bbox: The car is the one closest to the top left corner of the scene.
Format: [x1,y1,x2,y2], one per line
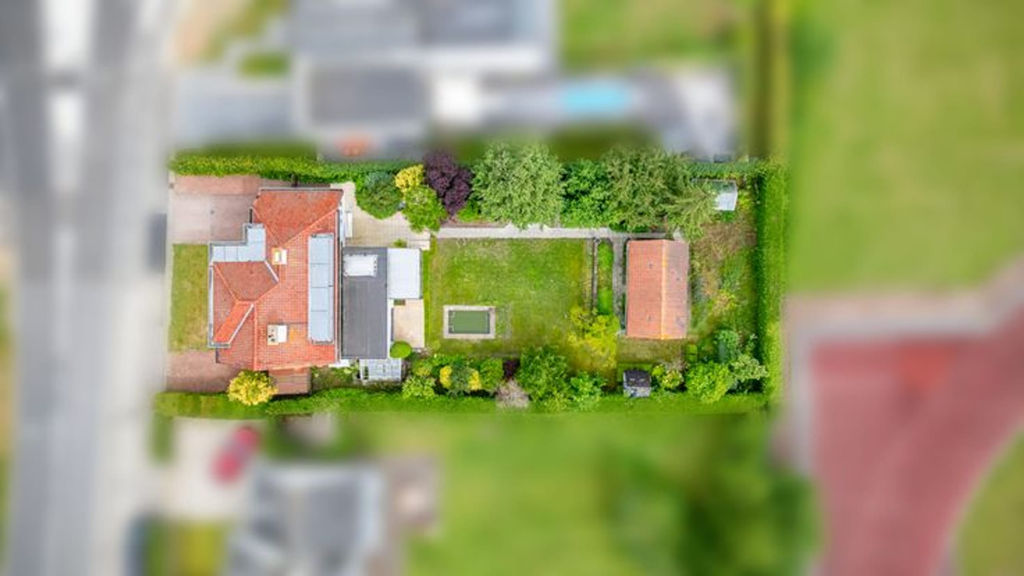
[141,216,171,271]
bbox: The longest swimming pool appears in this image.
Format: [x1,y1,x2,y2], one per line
[558,78,639,117]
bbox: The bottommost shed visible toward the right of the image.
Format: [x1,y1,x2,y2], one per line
[622,370,653,398]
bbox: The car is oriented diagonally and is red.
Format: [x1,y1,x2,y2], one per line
[214,426,261,482]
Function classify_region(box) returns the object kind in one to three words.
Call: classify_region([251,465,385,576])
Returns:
house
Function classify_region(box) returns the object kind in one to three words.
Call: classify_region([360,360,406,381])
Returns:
greenhouse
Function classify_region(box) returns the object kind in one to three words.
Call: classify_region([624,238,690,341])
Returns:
shed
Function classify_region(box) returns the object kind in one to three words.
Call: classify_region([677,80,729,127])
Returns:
building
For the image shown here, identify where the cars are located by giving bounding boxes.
[141,216,171,271]
[214,426,261,482]
[125,522,154,576]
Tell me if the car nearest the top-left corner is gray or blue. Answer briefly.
gray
